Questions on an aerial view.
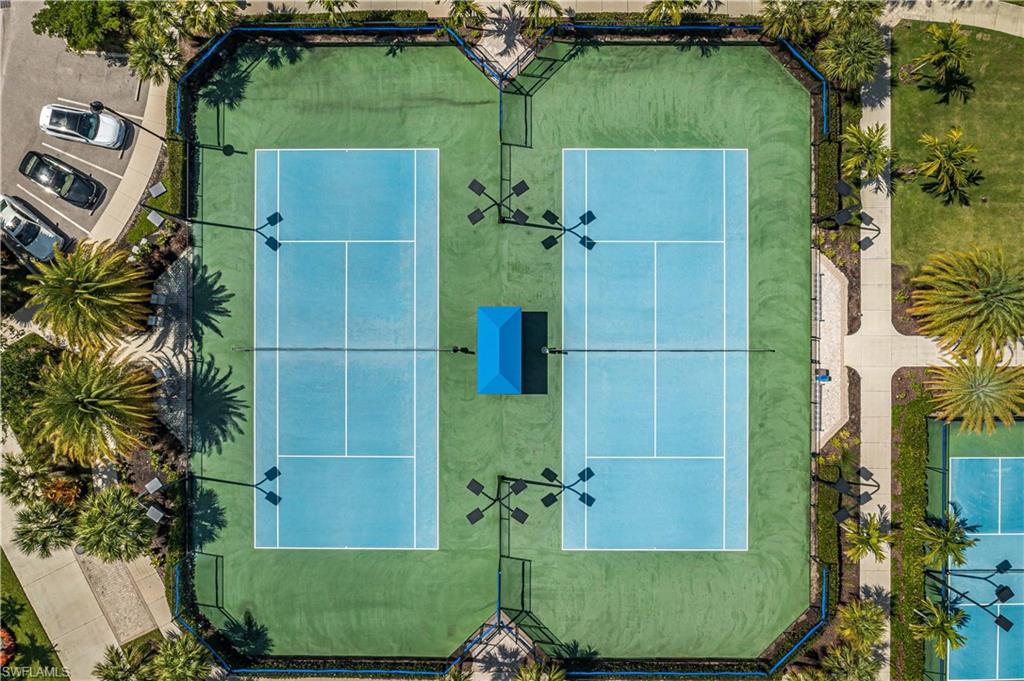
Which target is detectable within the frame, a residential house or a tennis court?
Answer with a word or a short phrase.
tennis court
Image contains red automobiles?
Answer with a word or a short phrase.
No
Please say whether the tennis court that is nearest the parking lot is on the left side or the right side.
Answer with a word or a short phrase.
left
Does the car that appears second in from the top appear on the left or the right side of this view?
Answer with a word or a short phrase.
left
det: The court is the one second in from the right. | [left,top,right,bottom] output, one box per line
[501,40,812,657]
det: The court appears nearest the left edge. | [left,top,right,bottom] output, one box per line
[192,40,501,657]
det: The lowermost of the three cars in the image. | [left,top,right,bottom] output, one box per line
[0,195,59,260]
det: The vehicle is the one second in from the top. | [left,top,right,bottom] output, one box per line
[14,150,98,208]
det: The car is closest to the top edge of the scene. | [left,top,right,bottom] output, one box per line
[37,100,122,148]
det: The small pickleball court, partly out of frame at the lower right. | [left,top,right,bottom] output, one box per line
[928,418,1024,681]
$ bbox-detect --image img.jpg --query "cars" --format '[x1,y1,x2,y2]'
[37,100,122,148]
[0,195,59,260]
[14,150,98,208]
